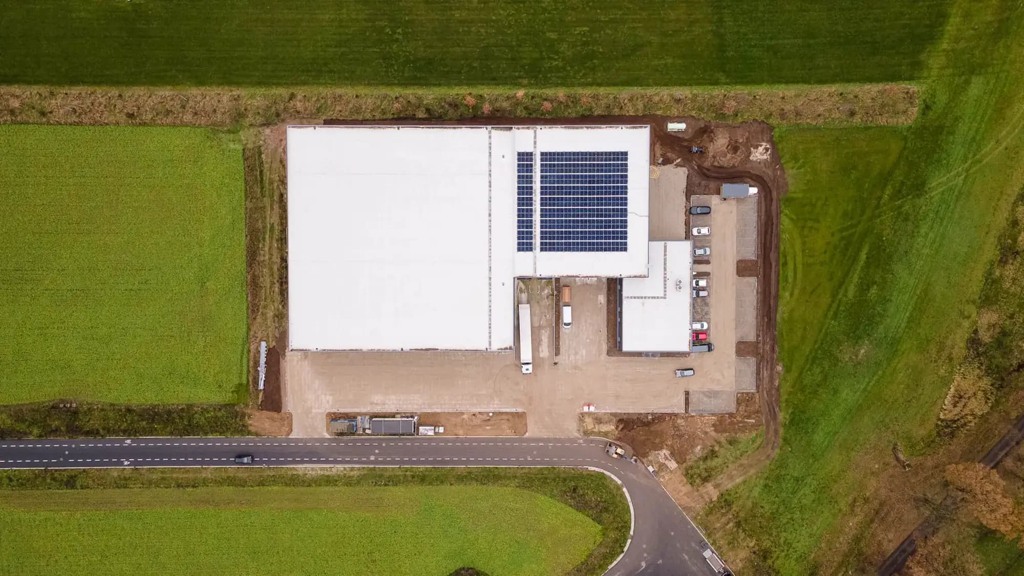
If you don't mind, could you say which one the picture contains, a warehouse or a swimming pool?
warehouse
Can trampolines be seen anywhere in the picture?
No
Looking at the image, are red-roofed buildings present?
No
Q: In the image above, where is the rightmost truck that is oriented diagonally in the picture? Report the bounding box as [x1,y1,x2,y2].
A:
[704,549,731,576]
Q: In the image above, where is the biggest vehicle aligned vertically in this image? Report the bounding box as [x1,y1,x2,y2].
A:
[519,304,533,373]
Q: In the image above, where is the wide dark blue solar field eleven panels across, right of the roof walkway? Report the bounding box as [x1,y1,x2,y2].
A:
[540,150,628,253]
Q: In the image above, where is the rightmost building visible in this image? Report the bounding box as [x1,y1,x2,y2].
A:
[616,241,693,355]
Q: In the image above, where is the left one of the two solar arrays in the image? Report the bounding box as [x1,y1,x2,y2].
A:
[517,151,533,252]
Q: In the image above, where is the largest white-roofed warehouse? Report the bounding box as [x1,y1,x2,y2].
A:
[287,126,514,351]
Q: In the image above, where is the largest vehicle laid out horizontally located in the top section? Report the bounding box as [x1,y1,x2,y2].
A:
[717,184,756,197]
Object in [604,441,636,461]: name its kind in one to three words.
work vehicle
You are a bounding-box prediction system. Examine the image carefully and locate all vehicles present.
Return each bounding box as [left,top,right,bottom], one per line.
[692,321,707,330]
[691,343,713,353]
[704,549,731,576]
[690,206,711,214]
[692,279,708,286]
[604,441,636,461]
[692,290,708,297]
[692,227,710,235]
[717,184,756,197]
[692,247,710,255]
[690,145,705,153]
[692,333,707,340]
[519,304,533,373]
[675,369,694,377]
[562,306,572,327]
[235,456,253,464]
